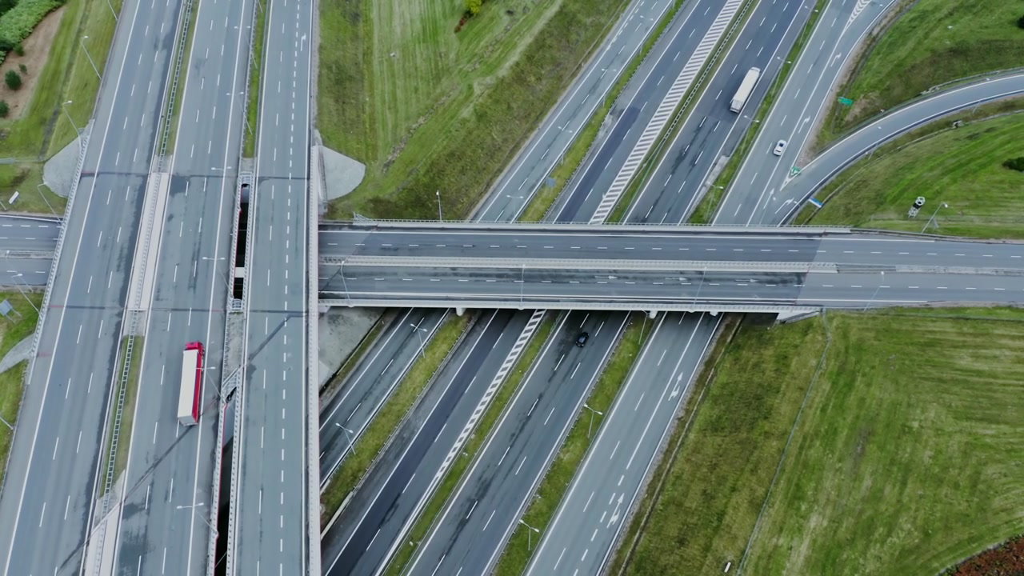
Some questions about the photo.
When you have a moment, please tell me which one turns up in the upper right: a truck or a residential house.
truck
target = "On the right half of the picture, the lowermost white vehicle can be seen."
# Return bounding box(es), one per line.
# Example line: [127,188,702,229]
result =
[774,142,786,156]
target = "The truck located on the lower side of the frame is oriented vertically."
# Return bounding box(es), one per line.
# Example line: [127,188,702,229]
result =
[179,339,207,426]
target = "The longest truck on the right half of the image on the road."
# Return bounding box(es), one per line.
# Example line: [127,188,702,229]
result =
[730,67,762,113]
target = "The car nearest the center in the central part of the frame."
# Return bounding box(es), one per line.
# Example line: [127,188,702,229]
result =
[574,332,589,350]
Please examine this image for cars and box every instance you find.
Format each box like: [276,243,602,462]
[574,332,589,350]
[774,142,786,156]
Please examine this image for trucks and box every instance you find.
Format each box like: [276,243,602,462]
[179,339,207,426]
[730,67,762,113]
